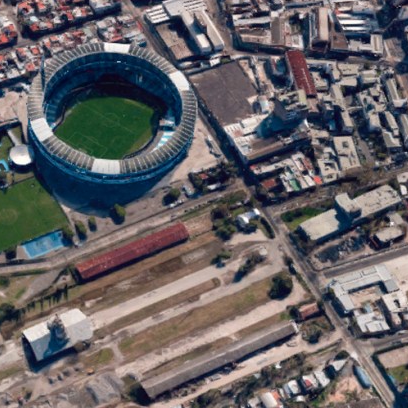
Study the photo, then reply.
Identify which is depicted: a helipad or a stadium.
stadium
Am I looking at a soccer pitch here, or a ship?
soccer pitch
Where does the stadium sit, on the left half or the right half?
left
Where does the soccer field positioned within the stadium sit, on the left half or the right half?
left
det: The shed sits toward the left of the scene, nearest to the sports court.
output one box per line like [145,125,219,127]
[76,222,190,284]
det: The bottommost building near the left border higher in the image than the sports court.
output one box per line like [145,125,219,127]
[10,147,32,167]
